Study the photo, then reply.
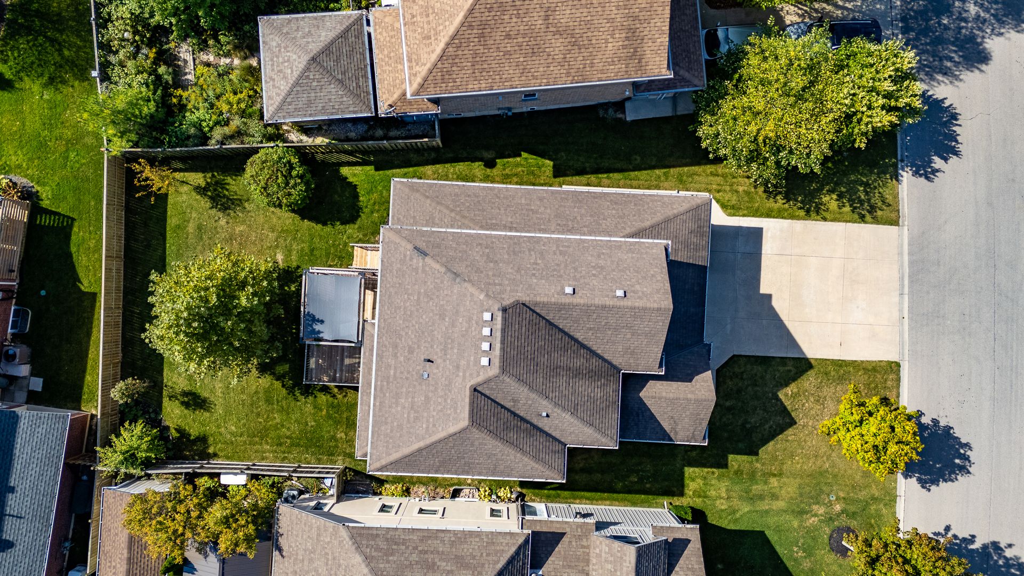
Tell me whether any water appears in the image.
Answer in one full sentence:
No, there is no water in the image.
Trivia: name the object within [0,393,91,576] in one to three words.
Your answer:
house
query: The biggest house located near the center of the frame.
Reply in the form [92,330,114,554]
[354,176,716,485]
